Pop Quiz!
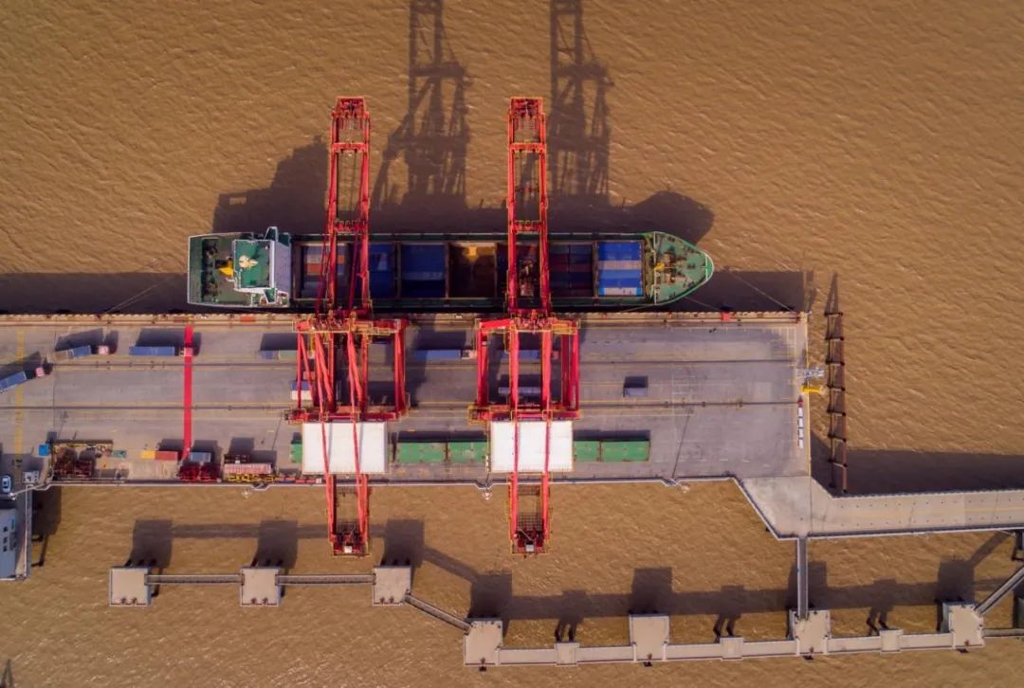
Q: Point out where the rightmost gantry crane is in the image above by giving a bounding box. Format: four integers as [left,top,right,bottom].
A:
[469,95,588,554]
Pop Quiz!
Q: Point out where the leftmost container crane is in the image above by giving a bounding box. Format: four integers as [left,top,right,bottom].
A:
[287,97,424,555]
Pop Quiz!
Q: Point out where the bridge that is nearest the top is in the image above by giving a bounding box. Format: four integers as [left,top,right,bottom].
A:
[810,477,1024,538]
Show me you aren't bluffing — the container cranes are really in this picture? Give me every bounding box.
[469,95,588,554]
[287,97,424,555]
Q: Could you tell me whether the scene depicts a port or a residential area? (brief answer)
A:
port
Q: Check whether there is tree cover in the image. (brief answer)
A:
No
